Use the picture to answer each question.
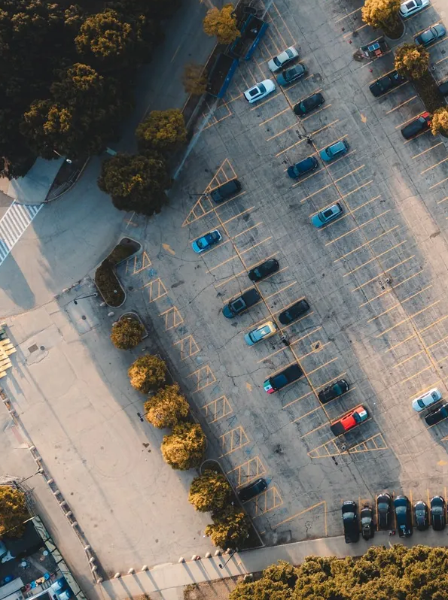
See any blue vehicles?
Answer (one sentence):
Yes, this view includes a blue vehicle.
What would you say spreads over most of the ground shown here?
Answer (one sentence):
The scene is dominated by paved ground.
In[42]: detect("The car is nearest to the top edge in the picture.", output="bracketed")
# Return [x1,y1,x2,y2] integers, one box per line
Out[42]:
[400,0,429,16]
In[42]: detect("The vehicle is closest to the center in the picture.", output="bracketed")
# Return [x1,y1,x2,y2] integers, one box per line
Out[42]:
[223,291,260,318]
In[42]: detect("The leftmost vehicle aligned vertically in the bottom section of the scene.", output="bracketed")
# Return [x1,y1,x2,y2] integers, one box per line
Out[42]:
[341,502,356,542]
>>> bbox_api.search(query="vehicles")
[394,498,409,536]
[287,155,317,178]
[412,387,442,411]
[413,22,446,46]
[341,502,356,542]
[209,178,242,202]
[236,478,268,502]
[369,68,406,96]
[414,500,428,529]
[295,93,323,115]
[312,204,342,226]
[424,402,448,426]
[192,229,222,253]
[248,259,280,281]
[400,113,434,139]
[317,379,348,402]
[223,291,260,318]
[436,80,448,96]
[429,496,444,529]
[265,364,301,392]
[360,508,374,539]
[278,299,312,324]
[400,0,429,16]
[376,494,392,527]
[268,47,299,69]
[246,321,276,345]
[276,62,307,86]
[320,138,350,161]
[243,80,275,102]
